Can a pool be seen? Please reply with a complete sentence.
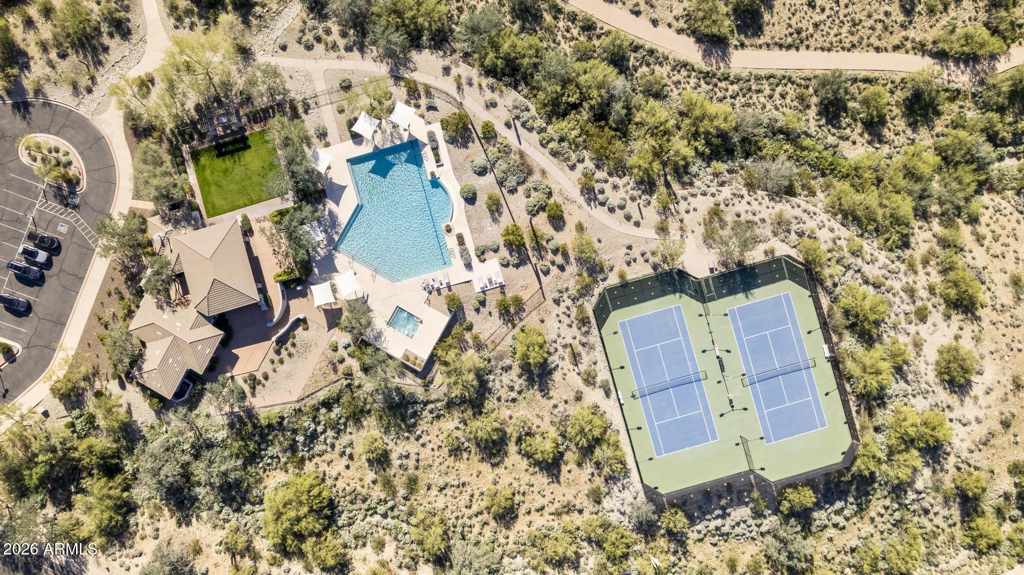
Yes, a pool can be made out from above.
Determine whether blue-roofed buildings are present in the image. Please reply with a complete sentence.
No, this view has no blue-roofed building in it.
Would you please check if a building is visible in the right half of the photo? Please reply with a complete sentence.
No, the scene shows no building in the right half of the photo.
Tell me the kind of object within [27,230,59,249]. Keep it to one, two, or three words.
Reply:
car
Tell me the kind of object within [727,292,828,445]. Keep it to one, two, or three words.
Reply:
tennis court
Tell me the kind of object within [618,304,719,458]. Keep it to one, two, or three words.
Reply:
tennis court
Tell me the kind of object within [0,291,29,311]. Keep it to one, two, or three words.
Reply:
car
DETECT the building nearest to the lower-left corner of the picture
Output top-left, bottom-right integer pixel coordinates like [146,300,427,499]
[128,214,262,399]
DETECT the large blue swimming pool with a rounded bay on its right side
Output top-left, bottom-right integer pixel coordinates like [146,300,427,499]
[334,139,453,283]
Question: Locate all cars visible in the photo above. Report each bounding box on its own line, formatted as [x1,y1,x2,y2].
[27,230,59,249]
[7,260,42,280]
[18,244,51,263]
[0,291,29,311]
